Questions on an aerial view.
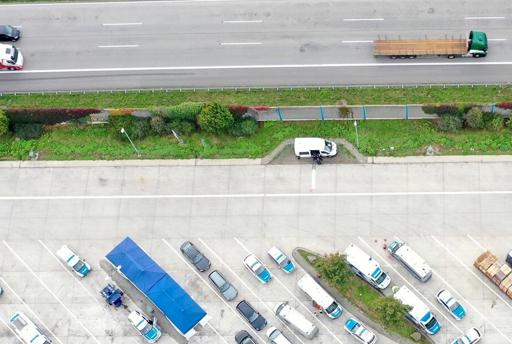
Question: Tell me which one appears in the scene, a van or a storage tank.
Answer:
van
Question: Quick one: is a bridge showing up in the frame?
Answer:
No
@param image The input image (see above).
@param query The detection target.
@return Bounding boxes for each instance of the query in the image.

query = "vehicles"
[266,325,293,344]
[179,240,212,274]
[296,272,344,321]
[235,329,258,344]
[0,44,28,71]
[128,310,162,344]
[235,298,269,333]
[267,245,298,276]
[0,25,22,43]
[207,269,240,304]
[435,288,468,322]
[388,241,433,286]
[344,318,380,344]
[374,33,488,61]
[274,301,321,343]
[55,244,93,278]
[242,253,275,287]
[453,327,482,344]
[8,311,55,344]
[294,139,337,157]
[393,285,440,335]
[342,244,392,290]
